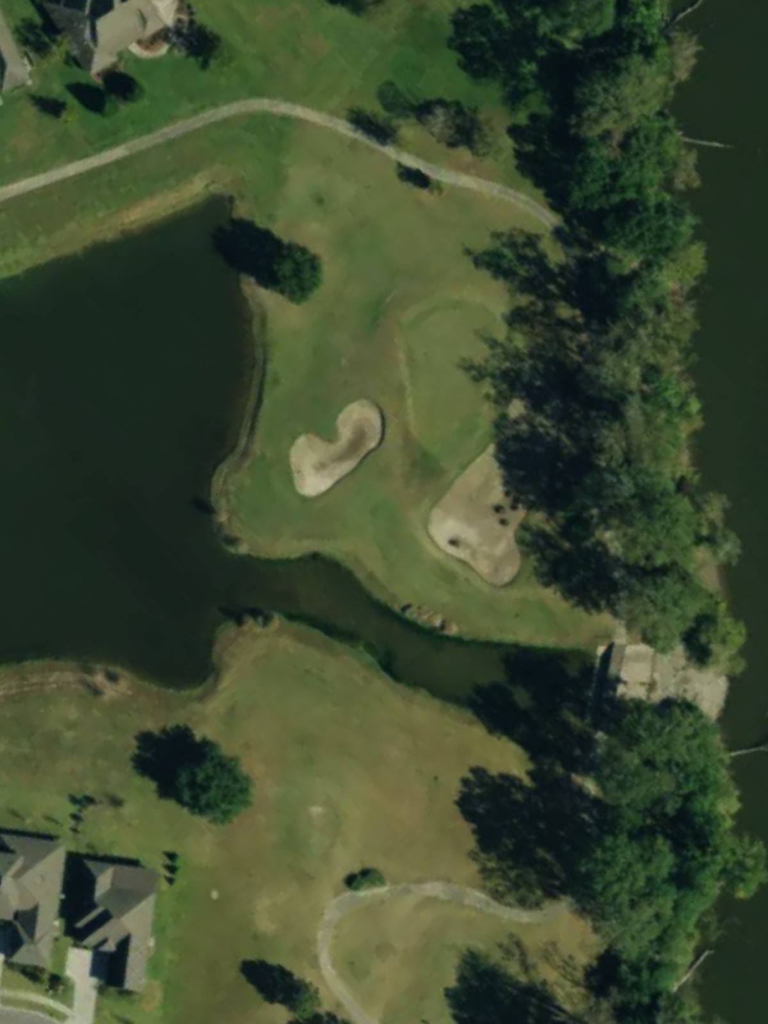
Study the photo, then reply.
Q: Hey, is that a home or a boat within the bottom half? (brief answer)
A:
home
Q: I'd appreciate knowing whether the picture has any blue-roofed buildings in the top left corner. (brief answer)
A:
No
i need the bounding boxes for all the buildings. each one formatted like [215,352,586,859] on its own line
[0,10,29,91]
[0,836,65,965]
[43,0,178,80]
[73,861,160,992]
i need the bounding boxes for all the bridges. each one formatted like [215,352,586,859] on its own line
[602,641,626,716]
